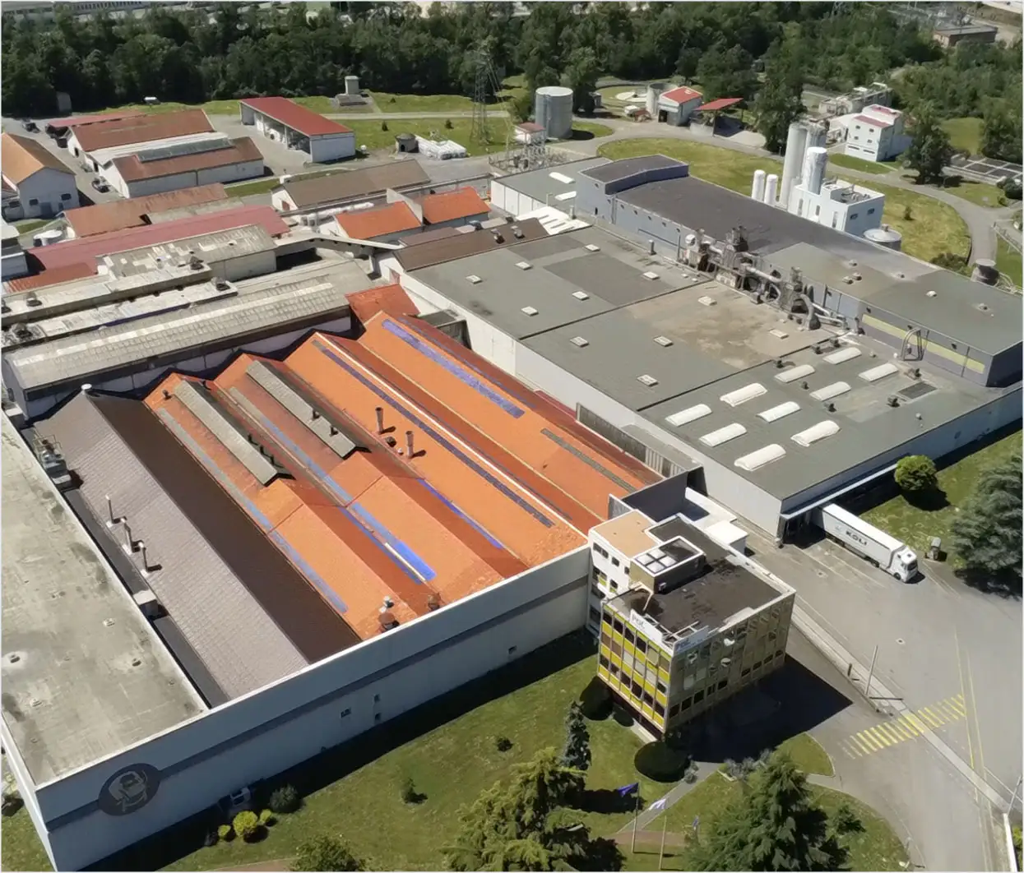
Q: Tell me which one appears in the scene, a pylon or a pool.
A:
pylon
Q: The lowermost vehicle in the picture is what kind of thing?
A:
truck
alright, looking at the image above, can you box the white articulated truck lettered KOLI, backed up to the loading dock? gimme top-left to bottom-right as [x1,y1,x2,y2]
[814,503,921,581]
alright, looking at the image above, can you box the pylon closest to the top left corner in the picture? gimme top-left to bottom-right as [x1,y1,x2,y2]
[459,46,493,145]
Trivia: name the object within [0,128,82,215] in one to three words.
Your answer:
house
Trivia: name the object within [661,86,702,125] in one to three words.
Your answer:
building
